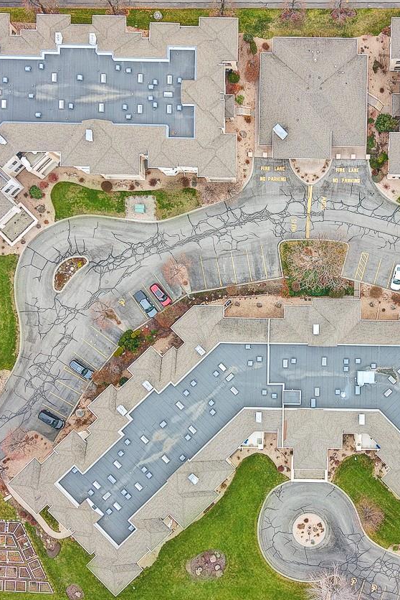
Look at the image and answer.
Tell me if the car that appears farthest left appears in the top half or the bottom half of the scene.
bottom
